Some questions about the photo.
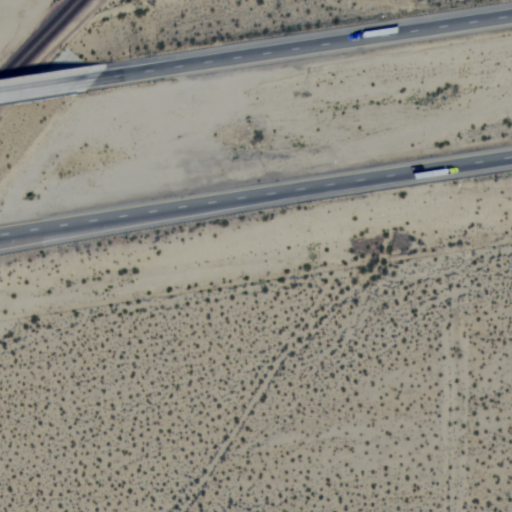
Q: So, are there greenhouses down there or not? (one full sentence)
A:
No, the picture doesn't show any greenhouse.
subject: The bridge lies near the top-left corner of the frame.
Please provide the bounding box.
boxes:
[0,49,108,107]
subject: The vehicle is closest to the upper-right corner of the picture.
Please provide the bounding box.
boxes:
[352,27,398,40]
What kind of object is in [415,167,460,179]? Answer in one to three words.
vehicle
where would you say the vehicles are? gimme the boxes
[412,166,424,172]
[415,167,460,179]
[352,27,398,40]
